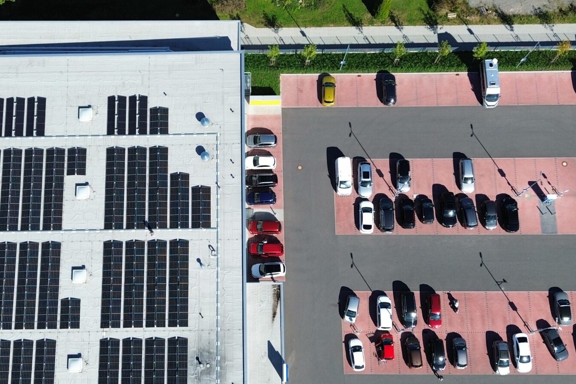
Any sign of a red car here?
Yes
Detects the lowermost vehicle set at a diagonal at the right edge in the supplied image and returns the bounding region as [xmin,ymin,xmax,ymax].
[539,326,568,362]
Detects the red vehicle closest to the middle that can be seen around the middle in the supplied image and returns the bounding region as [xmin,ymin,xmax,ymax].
[247,218,283,236]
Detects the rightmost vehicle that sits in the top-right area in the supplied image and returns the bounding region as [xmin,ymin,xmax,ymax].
[479,58,503,109]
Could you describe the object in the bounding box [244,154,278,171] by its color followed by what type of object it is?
white car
